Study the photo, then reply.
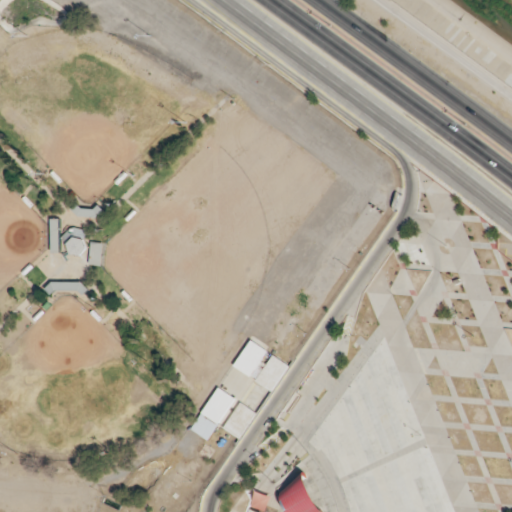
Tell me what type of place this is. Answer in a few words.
sports ground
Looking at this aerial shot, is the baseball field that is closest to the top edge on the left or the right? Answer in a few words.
left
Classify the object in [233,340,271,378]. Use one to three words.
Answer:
building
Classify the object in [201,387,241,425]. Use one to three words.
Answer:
building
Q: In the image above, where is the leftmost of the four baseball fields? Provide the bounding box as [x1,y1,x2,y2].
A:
[0,188,46,287]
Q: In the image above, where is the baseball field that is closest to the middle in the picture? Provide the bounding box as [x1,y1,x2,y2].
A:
[104,106,332,380]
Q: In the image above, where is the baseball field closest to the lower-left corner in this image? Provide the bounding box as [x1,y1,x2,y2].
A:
[0,295,162,454]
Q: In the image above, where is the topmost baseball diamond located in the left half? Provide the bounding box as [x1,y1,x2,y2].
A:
[0,32,190,206]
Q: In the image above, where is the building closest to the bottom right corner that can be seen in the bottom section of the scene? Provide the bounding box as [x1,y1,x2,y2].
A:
[280,472,328,512]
